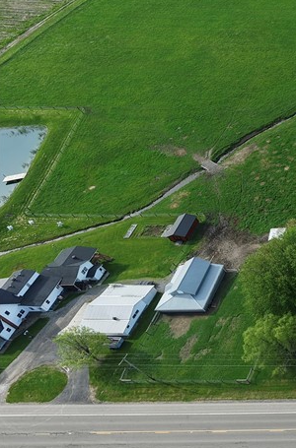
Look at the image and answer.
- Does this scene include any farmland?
Yes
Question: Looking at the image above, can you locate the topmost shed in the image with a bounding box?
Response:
[164,214,200,246]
